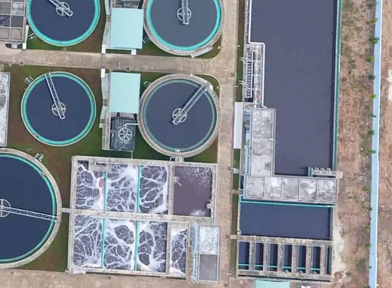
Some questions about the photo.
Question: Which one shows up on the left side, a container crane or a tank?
tank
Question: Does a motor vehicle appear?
No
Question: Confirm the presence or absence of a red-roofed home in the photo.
No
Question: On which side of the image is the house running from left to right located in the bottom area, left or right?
right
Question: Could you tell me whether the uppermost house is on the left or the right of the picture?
left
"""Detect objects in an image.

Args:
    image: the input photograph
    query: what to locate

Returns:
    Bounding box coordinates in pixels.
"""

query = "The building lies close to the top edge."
[99,0,144,49]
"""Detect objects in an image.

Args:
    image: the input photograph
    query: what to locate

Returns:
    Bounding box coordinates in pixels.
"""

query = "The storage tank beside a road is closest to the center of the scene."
[137,75,221,162]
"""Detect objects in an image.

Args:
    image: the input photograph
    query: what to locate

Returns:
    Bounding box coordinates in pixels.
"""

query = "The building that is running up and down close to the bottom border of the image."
[190,224,220,283]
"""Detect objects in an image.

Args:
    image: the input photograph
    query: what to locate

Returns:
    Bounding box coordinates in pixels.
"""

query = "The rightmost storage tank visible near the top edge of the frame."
[140,0,225,59]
